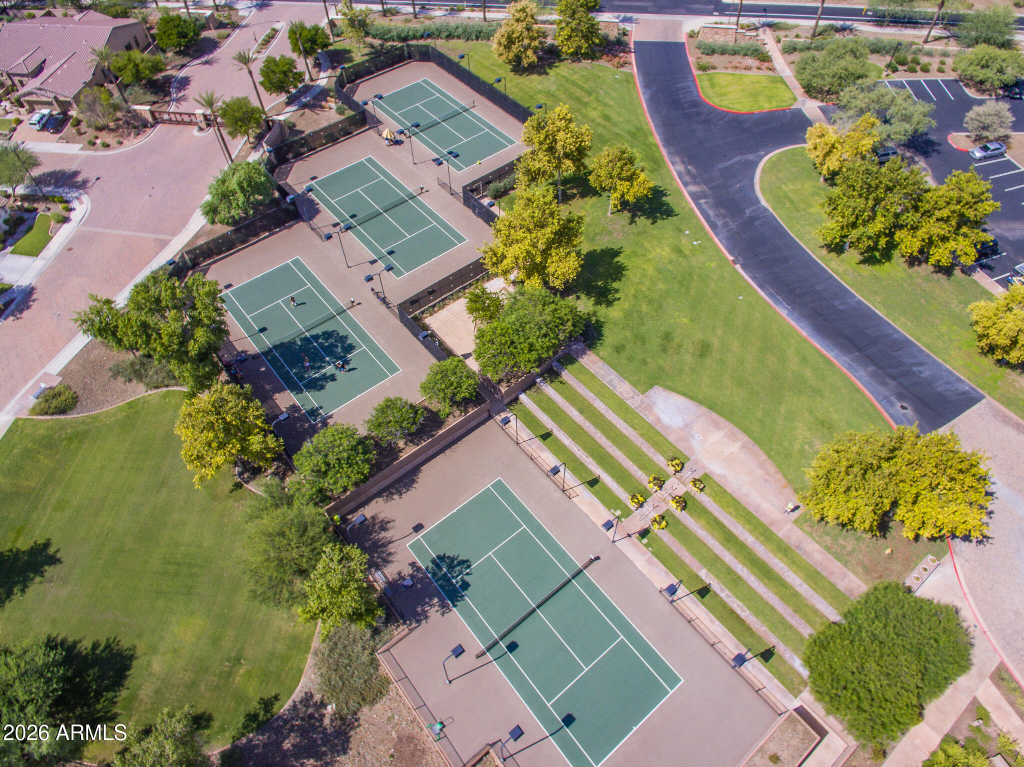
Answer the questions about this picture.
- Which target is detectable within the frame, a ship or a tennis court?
tennis court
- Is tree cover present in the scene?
Yes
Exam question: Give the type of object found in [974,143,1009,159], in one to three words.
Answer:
car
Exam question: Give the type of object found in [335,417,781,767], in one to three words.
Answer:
tennis court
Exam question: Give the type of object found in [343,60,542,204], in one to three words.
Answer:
tennis court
